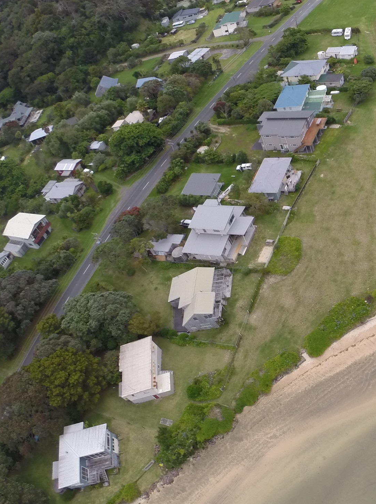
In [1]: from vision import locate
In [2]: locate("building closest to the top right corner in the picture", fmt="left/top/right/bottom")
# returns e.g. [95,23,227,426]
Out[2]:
[326,45,359,61]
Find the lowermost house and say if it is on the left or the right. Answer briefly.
left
